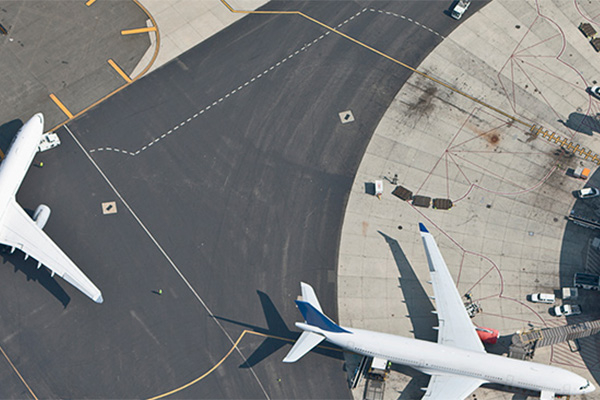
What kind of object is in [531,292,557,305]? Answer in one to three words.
vehicle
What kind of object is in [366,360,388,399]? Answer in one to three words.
work vehicle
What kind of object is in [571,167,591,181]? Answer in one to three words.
work vehicle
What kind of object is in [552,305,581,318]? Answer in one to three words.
vehicle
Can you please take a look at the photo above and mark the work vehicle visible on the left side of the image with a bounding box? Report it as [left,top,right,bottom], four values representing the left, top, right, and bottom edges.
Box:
[39,134,64,153]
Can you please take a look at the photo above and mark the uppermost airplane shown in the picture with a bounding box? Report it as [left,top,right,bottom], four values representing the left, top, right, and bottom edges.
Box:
[0,114,103,303]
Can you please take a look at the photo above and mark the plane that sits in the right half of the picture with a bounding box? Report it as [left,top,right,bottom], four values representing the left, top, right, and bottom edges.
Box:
[284,221,595,400]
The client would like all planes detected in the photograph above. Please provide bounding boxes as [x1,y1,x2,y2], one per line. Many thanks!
[284,221,595,400]
[0,114,103,303]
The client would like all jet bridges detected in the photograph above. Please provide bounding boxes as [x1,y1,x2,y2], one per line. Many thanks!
[506,319,600,361]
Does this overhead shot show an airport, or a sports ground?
airport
